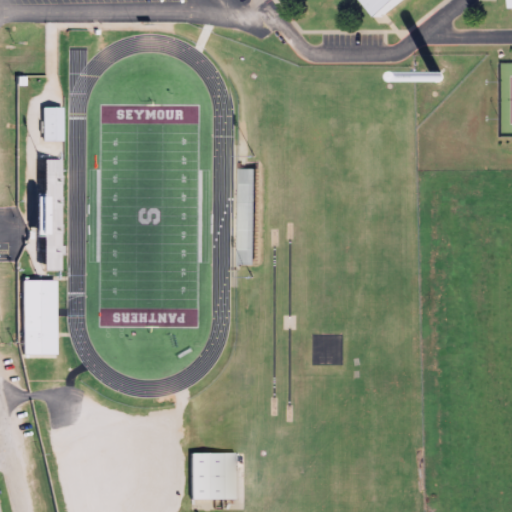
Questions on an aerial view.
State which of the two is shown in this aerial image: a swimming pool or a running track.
running track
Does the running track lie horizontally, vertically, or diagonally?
vertically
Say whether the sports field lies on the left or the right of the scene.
left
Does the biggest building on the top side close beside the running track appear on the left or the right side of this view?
left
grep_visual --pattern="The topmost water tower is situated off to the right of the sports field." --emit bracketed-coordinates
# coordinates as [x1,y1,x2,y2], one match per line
[382,70,445,84]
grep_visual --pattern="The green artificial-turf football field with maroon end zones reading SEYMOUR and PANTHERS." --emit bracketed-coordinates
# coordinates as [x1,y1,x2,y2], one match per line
[86,53,212,378]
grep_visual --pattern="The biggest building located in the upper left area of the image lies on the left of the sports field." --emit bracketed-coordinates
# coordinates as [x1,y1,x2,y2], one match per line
[42,107,68,142]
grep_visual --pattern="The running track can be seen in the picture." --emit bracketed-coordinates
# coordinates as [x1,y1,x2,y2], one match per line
[68,35,234,397]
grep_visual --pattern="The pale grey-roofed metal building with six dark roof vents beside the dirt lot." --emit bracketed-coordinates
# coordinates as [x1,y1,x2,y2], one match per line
[192,454,239,500]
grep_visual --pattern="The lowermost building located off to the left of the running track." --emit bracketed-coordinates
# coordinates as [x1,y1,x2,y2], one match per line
[23,279,62,356]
